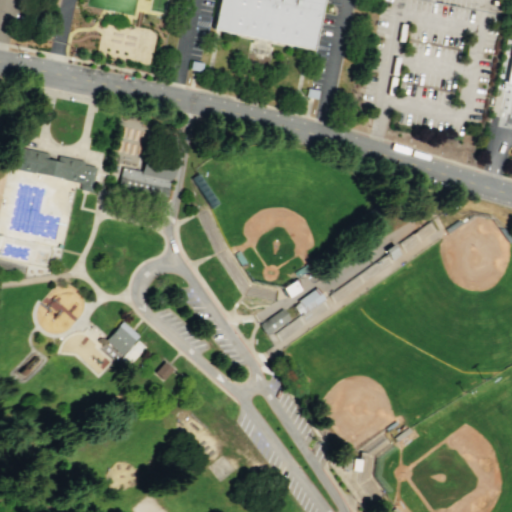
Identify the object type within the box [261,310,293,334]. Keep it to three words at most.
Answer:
building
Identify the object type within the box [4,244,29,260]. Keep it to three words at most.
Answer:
swimming pool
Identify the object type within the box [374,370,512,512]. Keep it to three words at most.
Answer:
baseball field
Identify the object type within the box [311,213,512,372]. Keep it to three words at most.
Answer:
baseball field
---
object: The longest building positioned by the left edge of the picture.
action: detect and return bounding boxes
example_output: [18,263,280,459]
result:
[16,148,97,190]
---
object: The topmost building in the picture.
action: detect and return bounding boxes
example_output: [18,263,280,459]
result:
[214,0,328,51]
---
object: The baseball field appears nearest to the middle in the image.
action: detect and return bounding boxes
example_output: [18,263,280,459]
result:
[196,142,374,291]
